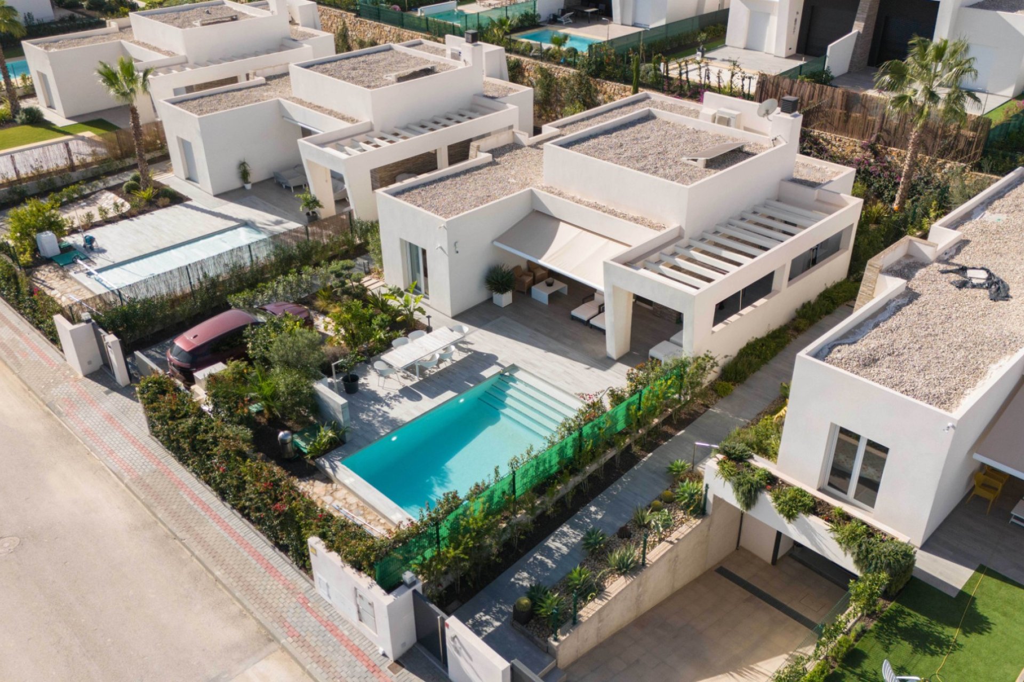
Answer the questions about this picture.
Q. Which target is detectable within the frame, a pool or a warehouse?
pool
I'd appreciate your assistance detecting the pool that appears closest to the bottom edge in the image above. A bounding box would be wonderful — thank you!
[341,366,595,517]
